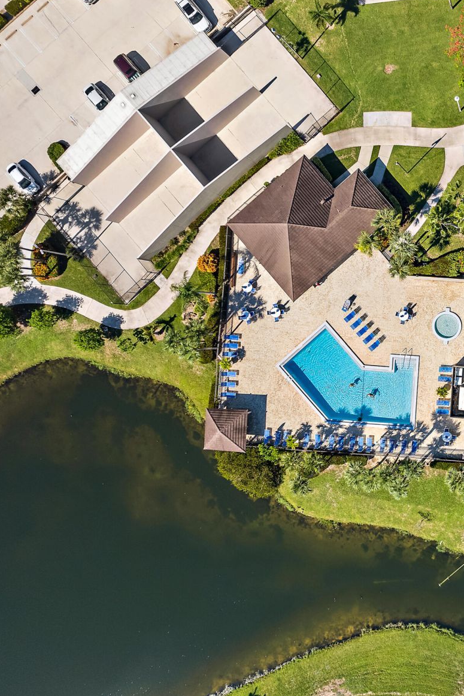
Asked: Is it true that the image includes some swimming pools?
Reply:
Yes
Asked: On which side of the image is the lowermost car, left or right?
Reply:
left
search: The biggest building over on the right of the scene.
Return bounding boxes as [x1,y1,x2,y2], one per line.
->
[227,155,400,301]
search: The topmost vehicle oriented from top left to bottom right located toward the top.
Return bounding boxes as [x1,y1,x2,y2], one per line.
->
[173,0,213,34]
